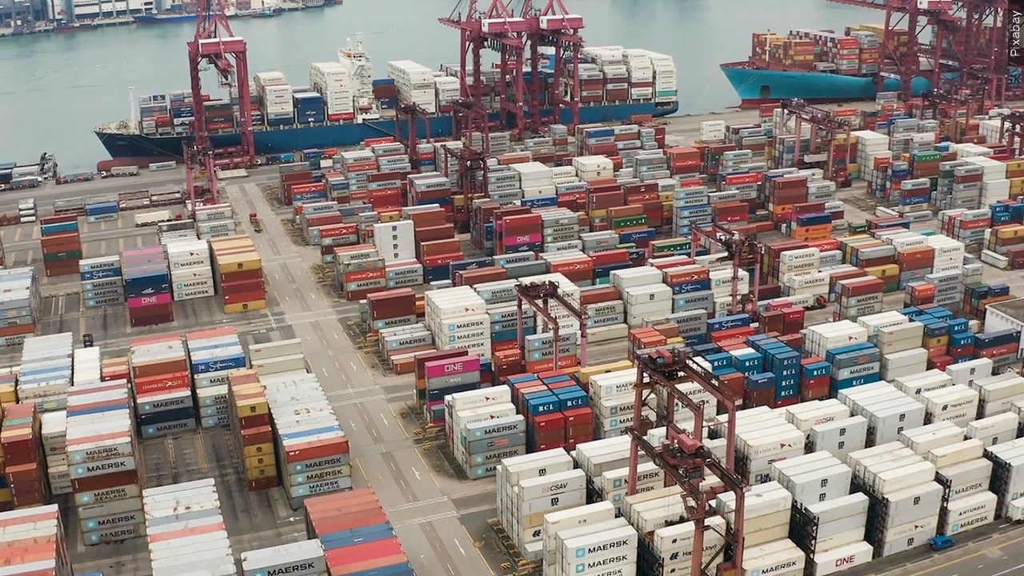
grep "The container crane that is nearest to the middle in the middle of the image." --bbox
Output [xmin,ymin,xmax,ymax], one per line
[511,272,599,386]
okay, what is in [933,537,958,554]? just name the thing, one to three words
vehicle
